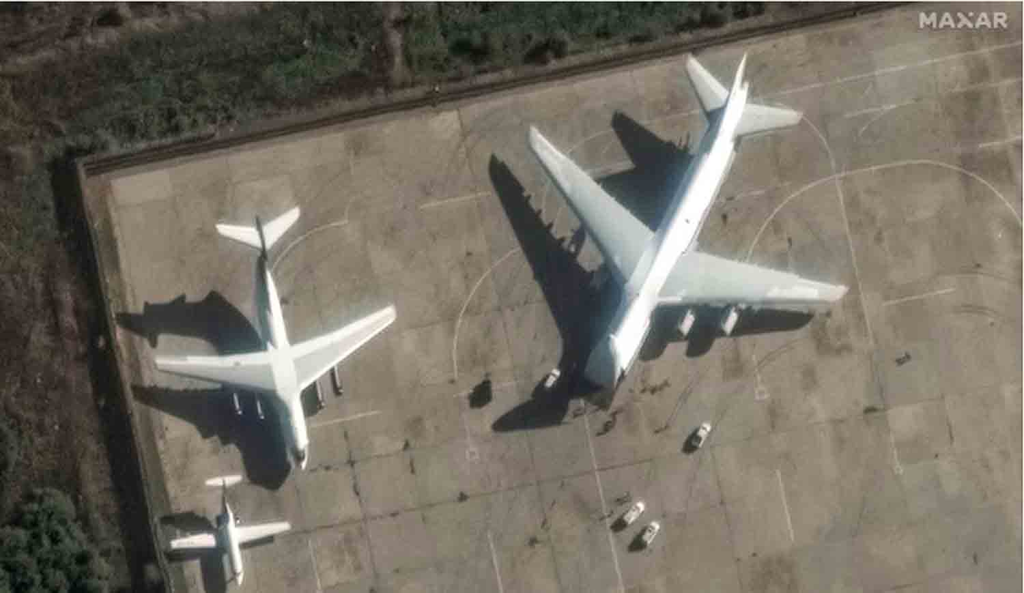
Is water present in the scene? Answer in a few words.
No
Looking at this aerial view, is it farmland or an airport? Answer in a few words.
airport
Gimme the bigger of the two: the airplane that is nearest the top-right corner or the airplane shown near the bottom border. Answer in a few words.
the airplane that is nearest the top-right corner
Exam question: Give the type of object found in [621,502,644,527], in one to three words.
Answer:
truck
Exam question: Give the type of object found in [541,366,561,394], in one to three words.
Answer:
vehicle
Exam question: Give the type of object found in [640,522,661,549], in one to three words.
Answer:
truck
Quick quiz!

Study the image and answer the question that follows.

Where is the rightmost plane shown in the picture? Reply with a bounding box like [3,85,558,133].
[526,53,848,411]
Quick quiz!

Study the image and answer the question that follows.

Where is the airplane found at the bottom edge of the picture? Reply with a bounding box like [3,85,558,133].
[171,475,292,586]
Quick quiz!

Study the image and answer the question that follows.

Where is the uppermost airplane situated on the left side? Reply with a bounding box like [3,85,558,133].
[154,206,394,470]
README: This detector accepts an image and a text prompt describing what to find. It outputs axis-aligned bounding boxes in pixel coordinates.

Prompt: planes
[171,475,292,586]
[154,206,394,470]
[526,53,848,411]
